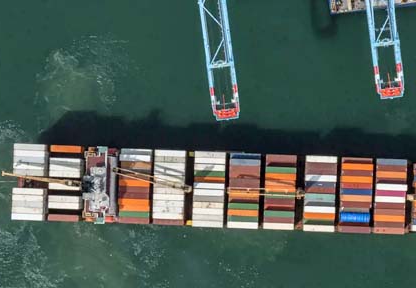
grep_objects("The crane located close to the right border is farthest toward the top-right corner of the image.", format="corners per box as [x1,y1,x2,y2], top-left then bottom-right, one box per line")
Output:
[364,0,404,100]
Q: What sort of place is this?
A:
port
